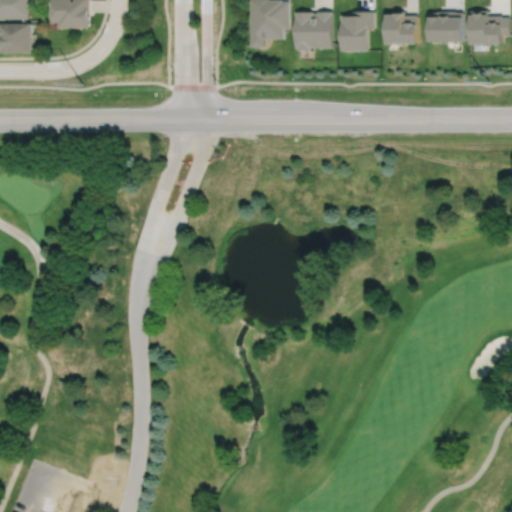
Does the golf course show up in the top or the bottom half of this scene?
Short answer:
bottom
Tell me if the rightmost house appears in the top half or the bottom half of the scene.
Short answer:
top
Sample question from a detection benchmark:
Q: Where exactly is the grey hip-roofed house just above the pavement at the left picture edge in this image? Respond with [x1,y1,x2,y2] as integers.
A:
[0,22,32,54]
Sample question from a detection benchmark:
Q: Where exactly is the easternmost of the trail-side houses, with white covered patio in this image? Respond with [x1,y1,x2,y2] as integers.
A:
[466,14,512,46]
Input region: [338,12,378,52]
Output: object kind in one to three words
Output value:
house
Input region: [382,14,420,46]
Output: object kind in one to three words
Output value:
house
